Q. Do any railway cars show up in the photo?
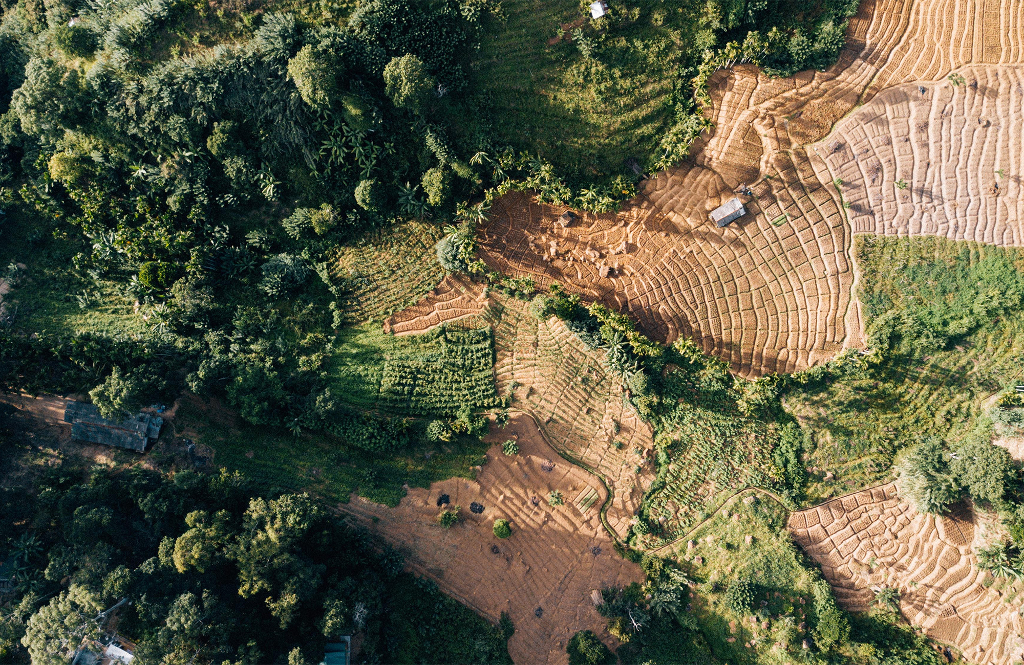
No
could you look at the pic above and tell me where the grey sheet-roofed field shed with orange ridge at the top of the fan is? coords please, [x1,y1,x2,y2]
[707,197,747,230]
